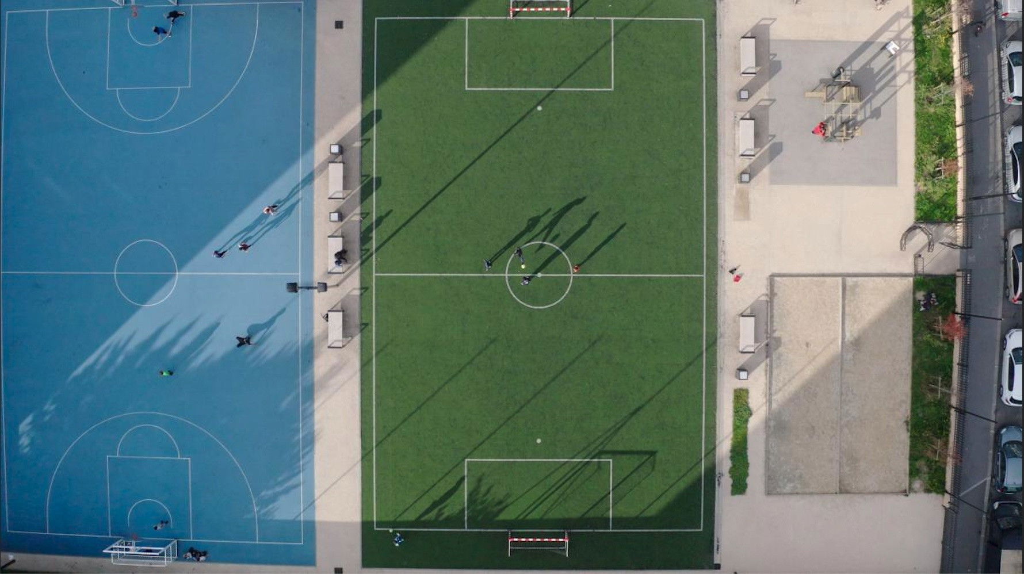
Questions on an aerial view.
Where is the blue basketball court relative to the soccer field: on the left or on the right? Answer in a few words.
to the left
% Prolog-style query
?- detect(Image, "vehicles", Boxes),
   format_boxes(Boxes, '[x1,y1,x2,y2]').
[1003,124,1024,202]
[992,425,1024,497]
[993,502,1024,574]
[998,329,1024,409]
[998,0,1024,19]
[1003,228,1024,304]
[999,38,1024,107]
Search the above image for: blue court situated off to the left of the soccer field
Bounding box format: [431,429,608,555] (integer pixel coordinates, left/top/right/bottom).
[0,0,316,566]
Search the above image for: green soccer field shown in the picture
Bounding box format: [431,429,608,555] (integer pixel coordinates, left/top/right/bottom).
[361,0,717,569]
